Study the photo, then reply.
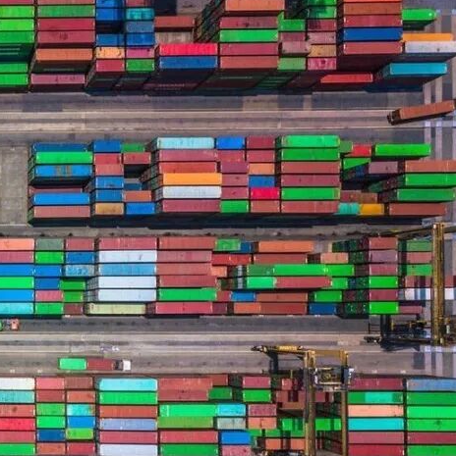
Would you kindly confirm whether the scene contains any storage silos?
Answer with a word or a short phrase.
No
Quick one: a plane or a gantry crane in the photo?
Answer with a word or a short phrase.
gantry crane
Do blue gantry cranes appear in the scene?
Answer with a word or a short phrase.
No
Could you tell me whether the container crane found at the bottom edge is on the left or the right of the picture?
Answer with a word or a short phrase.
right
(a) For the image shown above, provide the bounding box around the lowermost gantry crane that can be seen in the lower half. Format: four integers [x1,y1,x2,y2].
[250,340,357,456]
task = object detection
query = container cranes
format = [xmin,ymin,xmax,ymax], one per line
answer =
[250,340,357,456]
[361,218,456,350]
